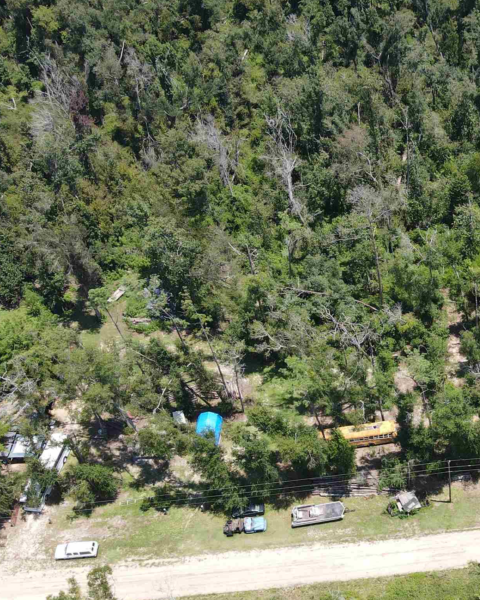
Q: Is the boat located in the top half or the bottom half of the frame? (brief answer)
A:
bottom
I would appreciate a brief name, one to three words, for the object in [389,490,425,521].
shed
